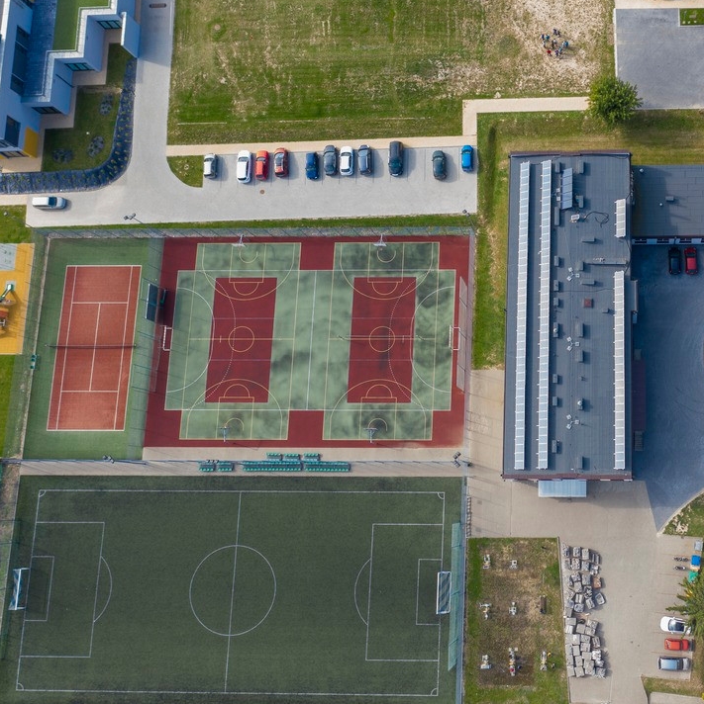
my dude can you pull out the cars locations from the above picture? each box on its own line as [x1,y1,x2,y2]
[273,150,289,176]
[304,153,319,179]
[658,616,692,633]
[683,247,697,275]
[656,655,690,673]
[254,153,270,179]
[321,146,338,176]
[431,152,447,180]
[203,153,219,180]
[662,638,689,653]
[668,247,681,275]
[459,147,473,172]
[339,147,354,176]
[357,146,372,175]
[235,152,252,182]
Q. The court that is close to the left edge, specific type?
tennis court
